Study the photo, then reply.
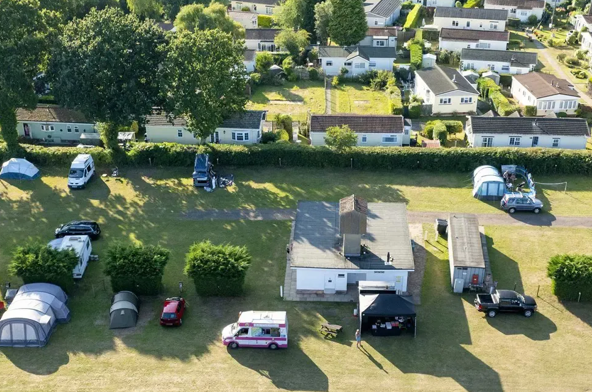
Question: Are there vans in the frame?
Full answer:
Yes, the frame does contain a van.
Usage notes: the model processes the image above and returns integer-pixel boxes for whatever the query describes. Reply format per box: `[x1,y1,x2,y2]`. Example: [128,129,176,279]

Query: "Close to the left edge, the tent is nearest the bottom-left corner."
[0,281,78,349]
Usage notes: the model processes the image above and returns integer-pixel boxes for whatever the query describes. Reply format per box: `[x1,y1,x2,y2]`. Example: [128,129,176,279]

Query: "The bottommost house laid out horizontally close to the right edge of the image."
[461,115,591,150]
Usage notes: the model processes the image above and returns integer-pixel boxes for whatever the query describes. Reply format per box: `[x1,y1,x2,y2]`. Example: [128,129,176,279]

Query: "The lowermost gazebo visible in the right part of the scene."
[359,296,419,337]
